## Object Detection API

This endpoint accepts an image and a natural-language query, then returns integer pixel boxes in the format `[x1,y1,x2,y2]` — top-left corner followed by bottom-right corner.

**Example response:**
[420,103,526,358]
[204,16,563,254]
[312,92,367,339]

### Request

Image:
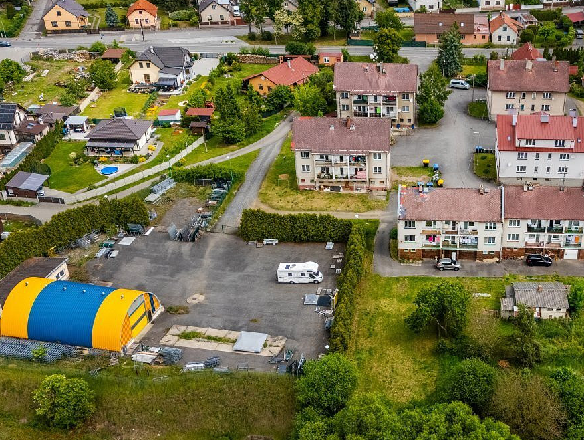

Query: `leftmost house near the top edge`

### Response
[40,0,89,30]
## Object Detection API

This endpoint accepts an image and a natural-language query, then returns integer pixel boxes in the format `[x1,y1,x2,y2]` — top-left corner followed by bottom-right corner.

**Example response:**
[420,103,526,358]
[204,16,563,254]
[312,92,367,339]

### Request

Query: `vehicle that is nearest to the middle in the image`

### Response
[275,264,323,287]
